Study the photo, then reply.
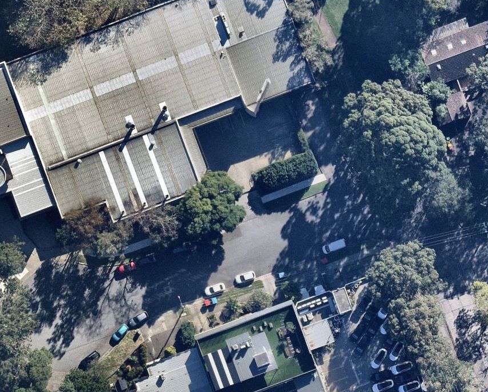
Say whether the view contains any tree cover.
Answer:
Yes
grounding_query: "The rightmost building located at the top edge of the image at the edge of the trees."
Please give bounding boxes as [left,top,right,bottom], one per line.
[420,17,488,81]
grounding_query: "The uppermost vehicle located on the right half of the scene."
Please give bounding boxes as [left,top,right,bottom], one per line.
[322,239,347,255]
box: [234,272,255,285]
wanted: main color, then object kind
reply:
white vehicle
